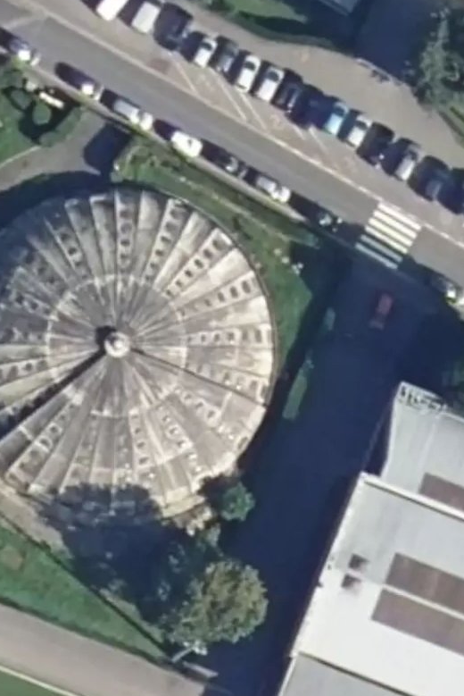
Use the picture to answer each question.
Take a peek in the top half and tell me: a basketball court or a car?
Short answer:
car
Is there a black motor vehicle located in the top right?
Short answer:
Yes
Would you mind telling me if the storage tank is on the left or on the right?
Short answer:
left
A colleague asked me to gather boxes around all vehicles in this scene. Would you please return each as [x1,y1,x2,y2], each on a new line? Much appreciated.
[191,33,220,70]
[389,142,417,179]
[347,115,375,151]
[363,125,393,165]
[61,65,102,97]
[111,95,152,129]
[322,100,352,136]
[1,33,41,64]
[94,0,120,23]
[251,171,291,203]
[442,171,464,214]
[166,128,206,160]
[304,201,343,233]
[233,52,262,93]
[276,76,305,118]
[295,89,327,130]
[415,159,444,200]
[255,63,286,104]
[160,7,191,50]
[206,145,247,177]
[213,39,240,76]
[131,0,164,38]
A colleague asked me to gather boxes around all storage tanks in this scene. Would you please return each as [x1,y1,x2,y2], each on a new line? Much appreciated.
[0,190,280,533]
